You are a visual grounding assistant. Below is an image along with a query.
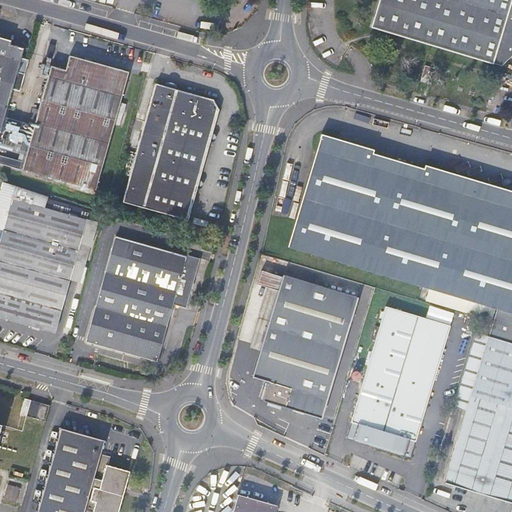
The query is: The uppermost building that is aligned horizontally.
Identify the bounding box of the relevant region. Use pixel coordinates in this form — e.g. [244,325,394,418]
[370,0,512,63]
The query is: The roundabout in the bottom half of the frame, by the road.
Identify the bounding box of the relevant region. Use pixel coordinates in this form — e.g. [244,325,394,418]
[142,370,254,468]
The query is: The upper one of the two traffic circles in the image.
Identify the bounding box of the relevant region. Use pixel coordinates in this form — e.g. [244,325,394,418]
[228,20,328,124]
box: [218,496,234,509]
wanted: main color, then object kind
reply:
white vehicle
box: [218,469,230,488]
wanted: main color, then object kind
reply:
white vehicle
